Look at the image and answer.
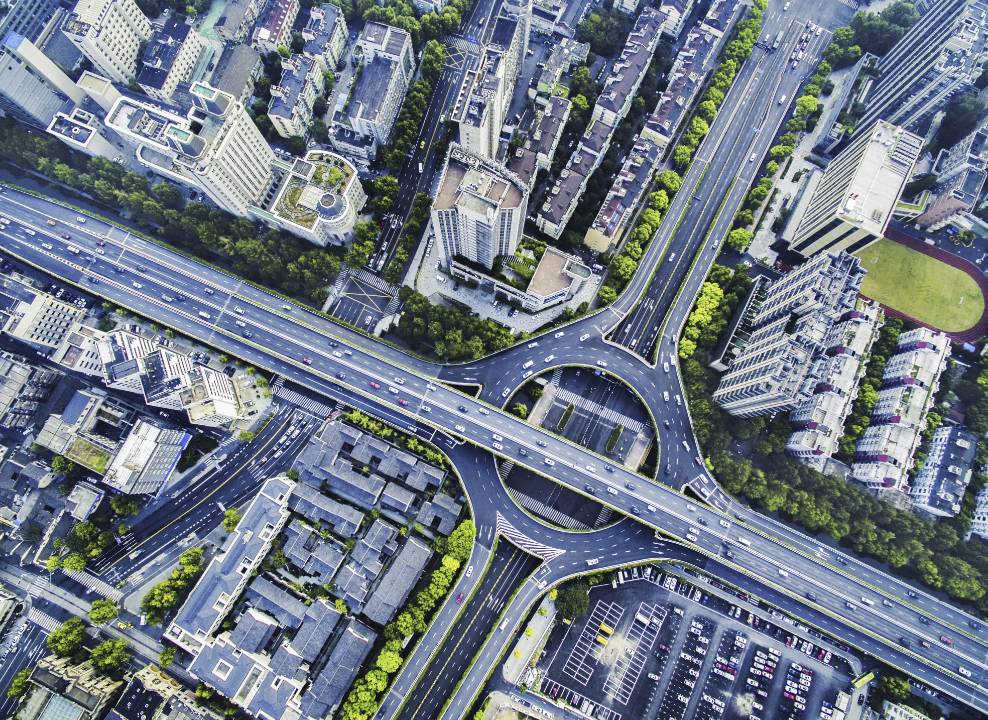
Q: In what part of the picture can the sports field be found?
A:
right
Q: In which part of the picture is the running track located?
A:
right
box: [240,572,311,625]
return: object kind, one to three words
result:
house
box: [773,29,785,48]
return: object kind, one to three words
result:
vehicle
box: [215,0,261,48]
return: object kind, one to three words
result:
building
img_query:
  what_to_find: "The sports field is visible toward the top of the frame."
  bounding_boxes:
[855,228,988,346]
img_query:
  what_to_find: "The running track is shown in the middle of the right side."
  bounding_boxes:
[855,228,988,346]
